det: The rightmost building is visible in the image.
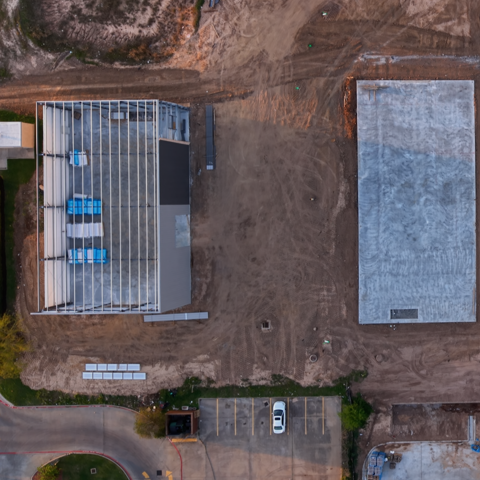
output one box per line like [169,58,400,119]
[29,98,192,315]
